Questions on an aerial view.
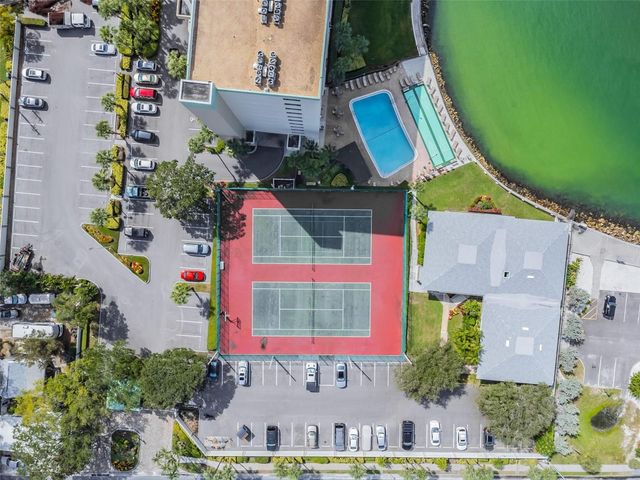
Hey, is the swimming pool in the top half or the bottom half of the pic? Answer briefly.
top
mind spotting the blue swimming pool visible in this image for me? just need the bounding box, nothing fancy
[351,91,416,177]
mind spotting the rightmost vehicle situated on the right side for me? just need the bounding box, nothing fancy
[601,295,616,319]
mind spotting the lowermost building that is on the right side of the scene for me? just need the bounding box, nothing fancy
[419,211,572,386]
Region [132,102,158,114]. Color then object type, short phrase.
white vehicle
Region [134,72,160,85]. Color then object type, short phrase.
white vehicle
